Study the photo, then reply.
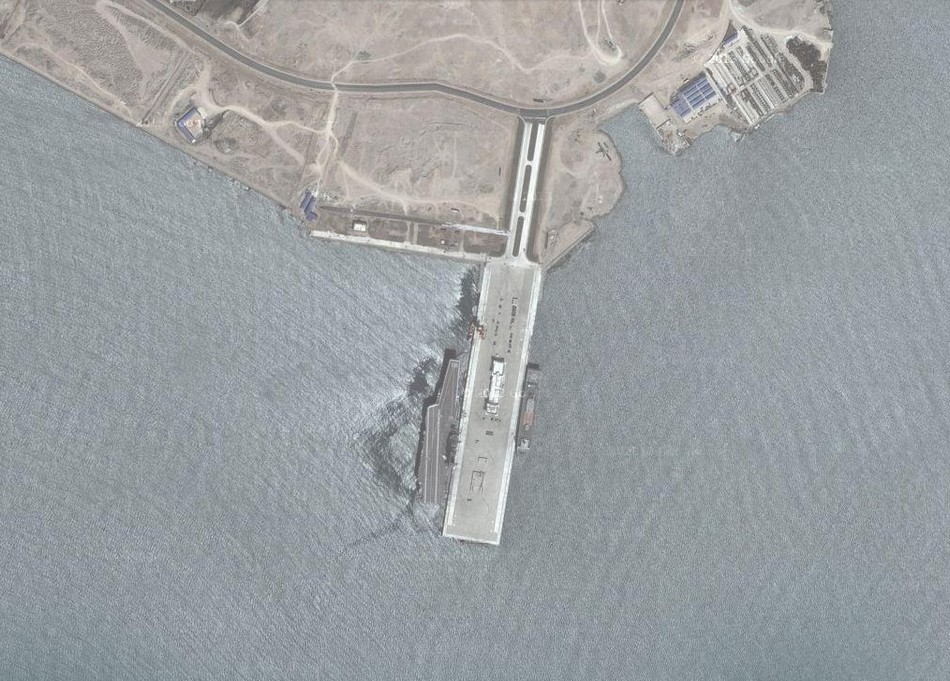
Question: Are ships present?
Yes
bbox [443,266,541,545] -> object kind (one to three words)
pier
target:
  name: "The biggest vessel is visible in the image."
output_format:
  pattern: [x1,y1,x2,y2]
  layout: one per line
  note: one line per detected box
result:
[417,351,466,516]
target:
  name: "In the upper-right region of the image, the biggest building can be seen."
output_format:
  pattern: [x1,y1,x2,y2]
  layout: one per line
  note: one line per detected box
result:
[675,77,720,117]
